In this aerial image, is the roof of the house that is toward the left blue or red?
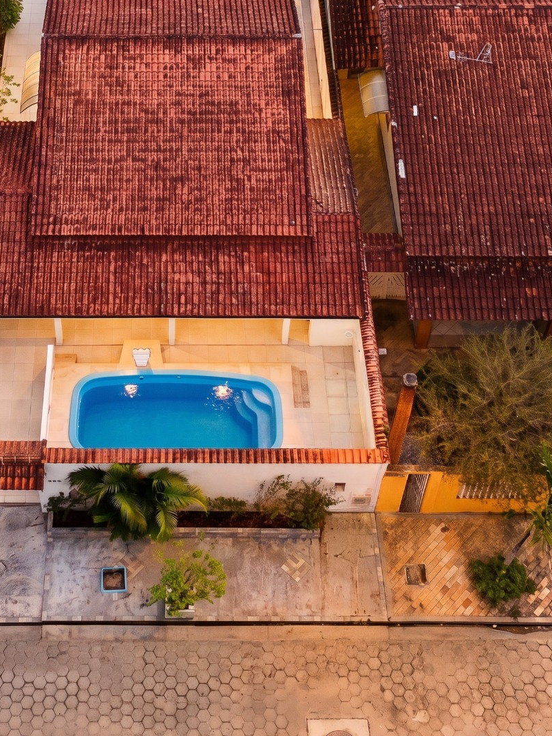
red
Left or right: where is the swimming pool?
left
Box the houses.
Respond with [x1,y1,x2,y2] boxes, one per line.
[0,0,366,343]
[372,0,552,357]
